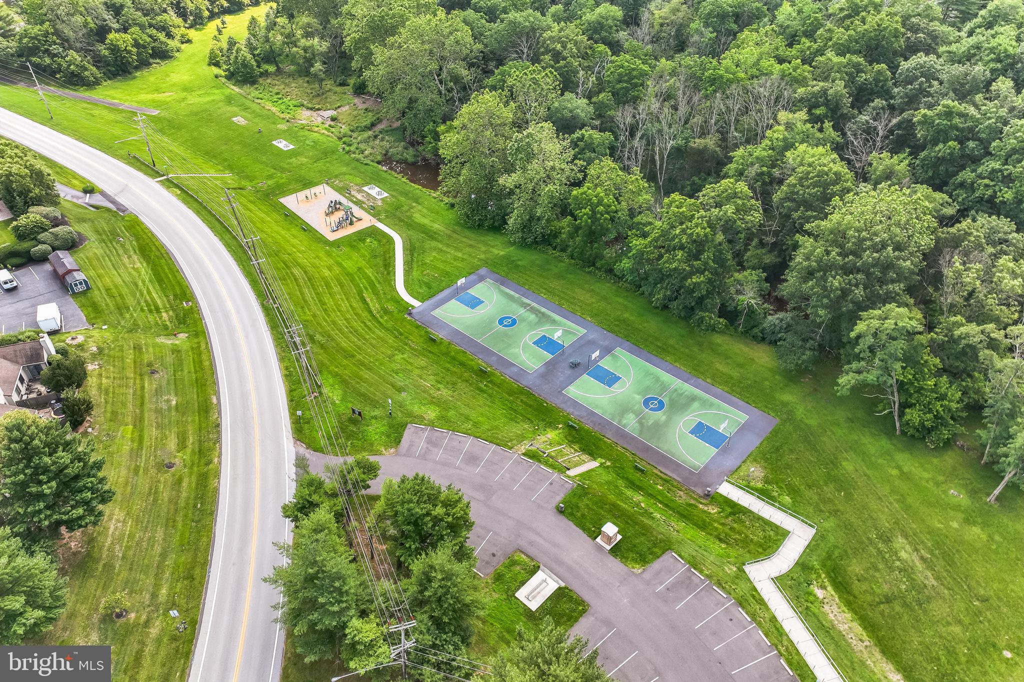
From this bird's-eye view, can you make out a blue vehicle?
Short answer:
No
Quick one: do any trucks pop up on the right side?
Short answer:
No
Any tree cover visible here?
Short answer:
Yes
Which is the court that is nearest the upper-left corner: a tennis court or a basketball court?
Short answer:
basketball court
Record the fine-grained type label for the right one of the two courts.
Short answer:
basketball court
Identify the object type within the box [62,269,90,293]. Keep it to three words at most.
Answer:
shed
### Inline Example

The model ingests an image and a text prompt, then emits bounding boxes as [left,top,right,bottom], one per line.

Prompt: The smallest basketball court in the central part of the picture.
[431,279,587,373]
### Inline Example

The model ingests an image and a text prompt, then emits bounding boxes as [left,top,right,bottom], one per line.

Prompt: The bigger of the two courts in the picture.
[563,348,749,473]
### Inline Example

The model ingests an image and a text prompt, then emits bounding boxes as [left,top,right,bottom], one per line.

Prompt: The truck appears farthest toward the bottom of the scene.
[38,298,64,329]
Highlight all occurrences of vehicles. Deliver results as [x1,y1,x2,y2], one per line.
[38,298,64,329]
[0,268,16,288]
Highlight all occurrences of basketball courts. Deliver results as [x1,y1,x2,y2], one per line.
[431,279,587,373]
[563,348,749,473]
